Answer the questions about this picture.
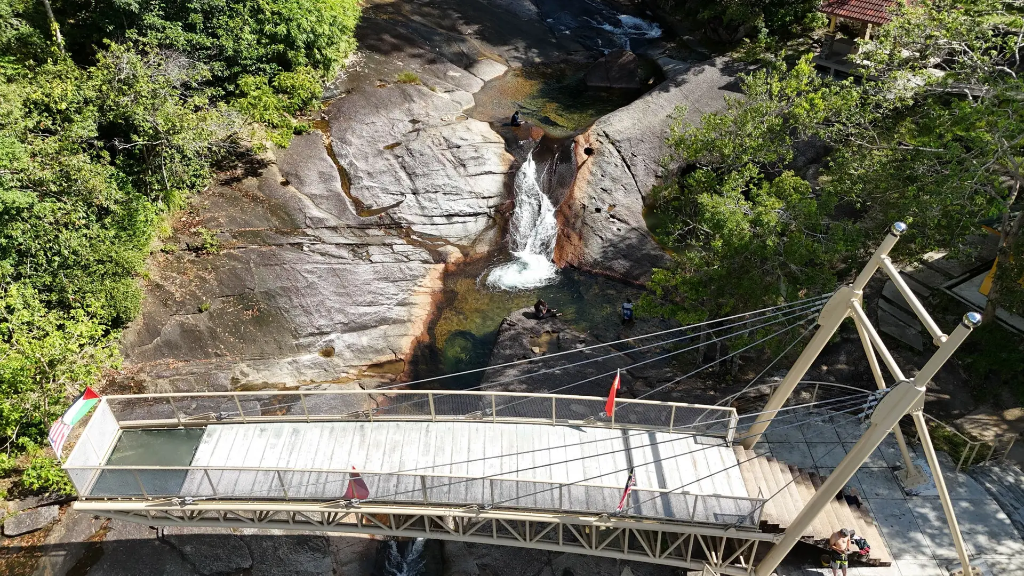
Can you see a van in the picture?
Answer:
No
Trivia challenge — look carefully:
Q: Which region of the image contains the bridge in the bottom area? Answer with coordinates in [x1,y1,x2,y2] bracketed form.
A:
[51,389,778,576]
